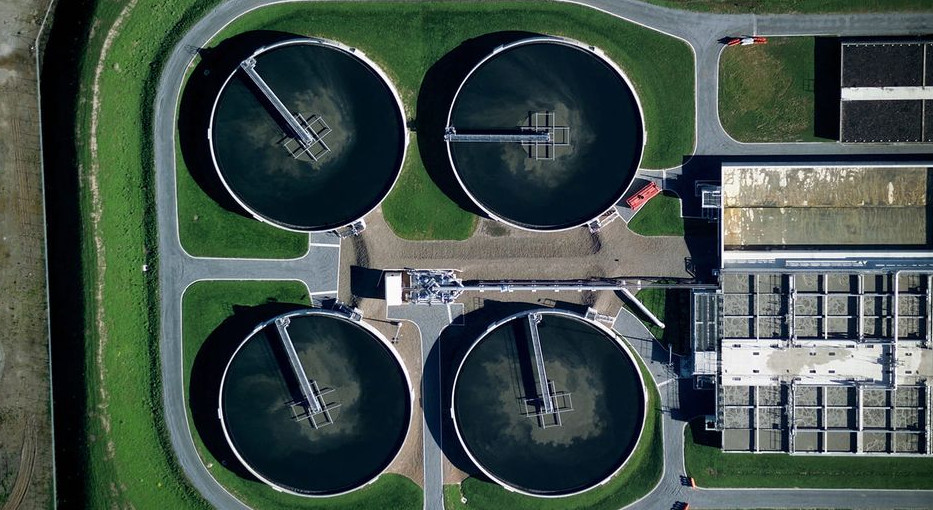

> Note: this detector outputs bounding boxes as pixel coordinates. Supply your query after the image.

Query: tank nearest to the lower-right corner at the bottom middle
[450,302,650,497]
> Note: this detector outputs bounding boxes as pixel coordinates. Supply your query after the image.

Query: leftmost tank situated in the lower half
[217,303,416,497]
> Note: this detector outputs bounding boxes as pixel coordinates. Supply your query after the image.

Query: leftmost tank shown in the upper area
[208,34,411,233]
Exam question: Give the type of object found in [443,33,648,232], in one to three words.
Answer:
storage tank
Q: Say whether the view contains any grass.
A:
Yes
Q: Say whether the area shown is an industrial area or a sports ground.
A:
industrial area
